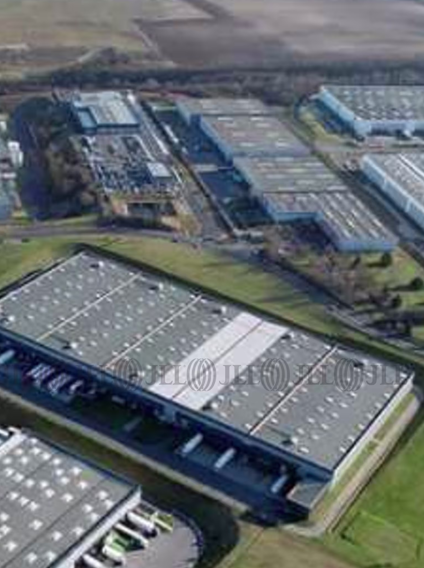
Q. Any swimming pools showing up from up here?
No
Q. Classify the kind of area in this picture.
industrial area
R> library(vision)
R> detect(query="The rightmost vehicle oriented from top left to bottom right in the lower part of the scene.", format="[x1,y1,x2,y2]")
[127,513,157,539]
